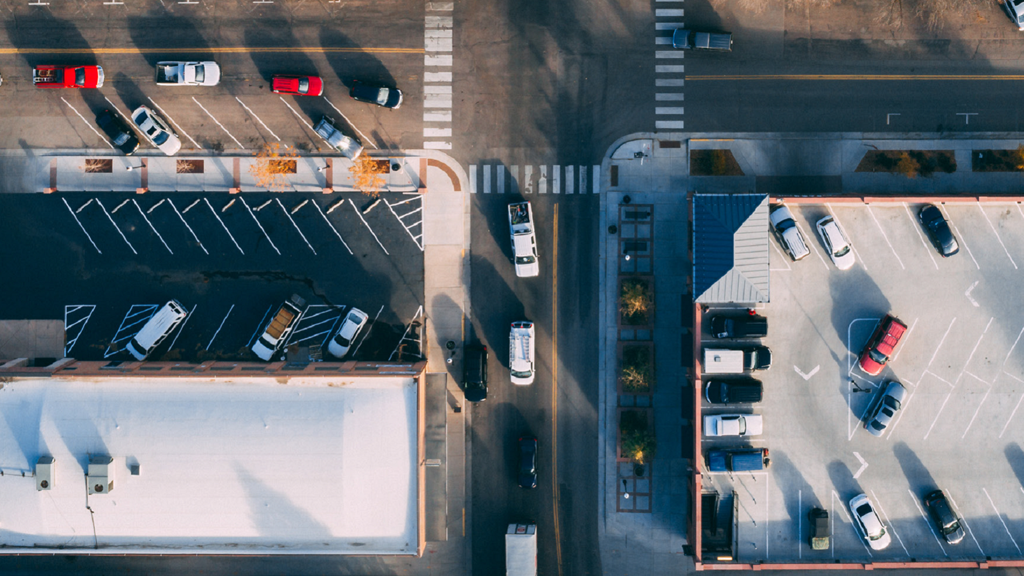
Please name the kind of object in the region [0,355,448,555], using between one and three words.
building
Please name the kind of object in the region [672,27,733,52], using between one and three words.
truck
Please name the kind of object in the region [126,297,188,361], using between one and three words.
van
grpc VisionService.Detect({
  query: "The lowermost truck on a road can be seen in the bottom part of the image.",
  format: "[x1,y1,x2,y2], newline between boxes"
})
[506,522,536,576]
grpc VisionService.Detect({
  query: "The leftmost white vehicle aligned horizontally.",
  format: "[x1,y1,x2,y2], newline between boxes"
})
[154,59,222,87]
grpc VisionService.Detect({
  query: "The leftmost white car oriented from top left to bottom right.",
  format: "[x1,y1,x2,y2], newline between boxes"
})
[130,105,182,158]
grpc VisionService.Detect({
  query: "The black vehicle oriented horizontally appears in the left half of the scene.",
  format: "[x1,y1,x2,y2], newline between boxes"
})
[348,79,403,110]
